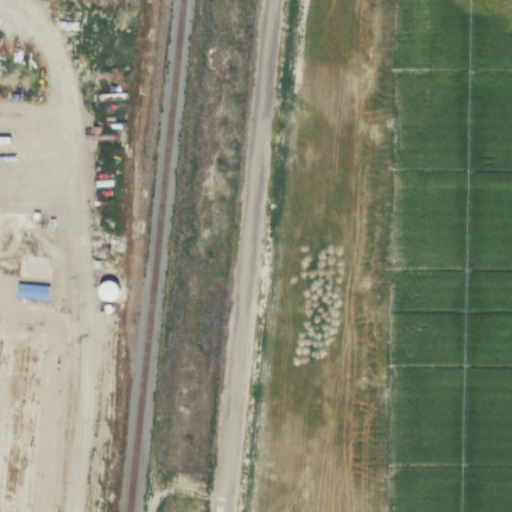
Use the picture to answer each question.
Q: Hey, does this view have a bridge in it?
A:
No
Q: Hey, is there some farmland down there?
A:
Yes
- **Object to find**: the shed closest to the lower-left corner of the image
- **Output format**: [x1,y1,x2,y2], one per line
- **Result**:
[17,283,49,300]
